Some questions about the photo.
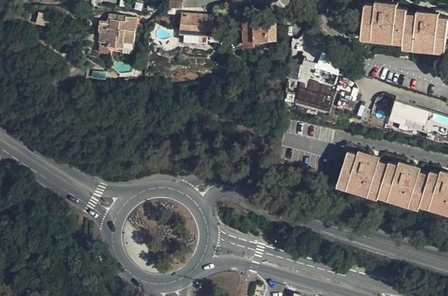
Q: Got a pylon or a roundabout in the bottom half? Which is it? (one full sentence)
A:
Visible in the bottom half is a roundabout.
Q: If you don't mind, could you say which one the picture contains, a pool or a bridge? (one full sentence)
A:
This aerial view contains a pool.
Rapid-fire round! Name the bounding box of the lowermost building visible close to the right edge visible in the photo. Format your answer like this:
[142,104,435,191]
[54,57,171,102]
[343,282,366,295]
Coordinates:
[336,150,448,218]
